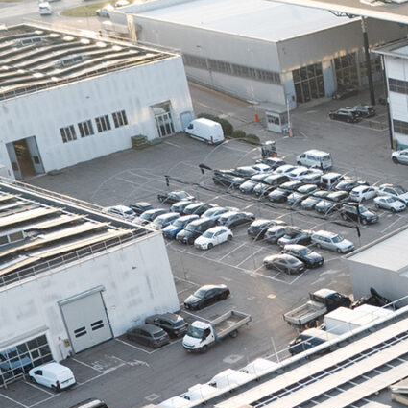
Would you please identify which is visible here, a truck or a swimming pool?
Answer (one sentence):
Looking from above, you can make out a truck.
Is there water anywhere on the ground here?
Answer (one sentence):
No, the picture contains no water.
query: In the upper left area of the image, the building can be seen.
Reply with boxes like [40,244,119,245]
[0,13,197,186]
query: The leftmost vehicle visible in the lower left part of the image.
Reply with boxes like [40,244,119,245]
[26,361,79,392]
